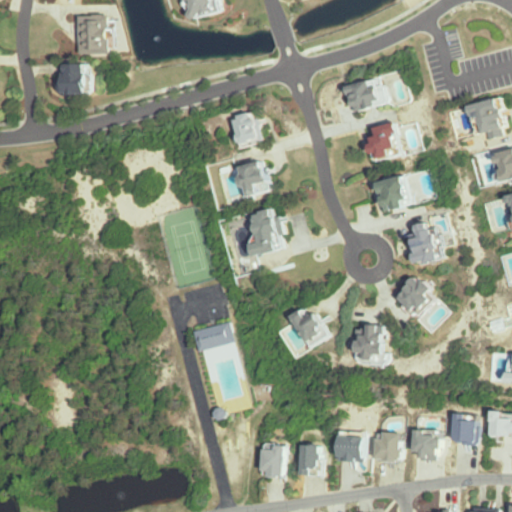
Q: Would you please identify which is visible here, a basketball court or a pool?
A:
pool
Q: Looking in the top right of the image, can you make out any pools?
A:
Yes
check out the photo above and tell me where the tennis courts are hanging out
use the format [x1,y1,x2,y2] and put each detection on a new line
[164,208,210,288]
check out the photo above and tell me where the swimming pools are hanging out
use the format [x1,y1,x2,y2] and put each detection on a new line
[406,172,436,208]
[418,417,446,432]
[400,122,422,154]
[280,324,310,359]
[500,253,512,286]
[492,352,509,383]
[485,200,512,234]
[382,72,413,106]
[382,416,406,432]
[200,323,254,414]
[220,166,242,204]
[474,152,512,188]
[430,213,455,259]
[450,110,472,138]
[418,299,452,334]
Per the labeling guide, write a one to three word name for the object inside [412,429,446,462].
house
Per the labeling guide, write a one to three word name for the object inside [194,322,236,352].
building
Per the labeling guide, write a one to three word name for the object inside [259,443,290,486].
house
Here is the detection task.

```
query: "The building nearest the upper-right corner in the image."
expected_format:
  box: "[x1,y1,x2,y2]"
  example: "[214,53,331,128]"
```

[464,96,511,140]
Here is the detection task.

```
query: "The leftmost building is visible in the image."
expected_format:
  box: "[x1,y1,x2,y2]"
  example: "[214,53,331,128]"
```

[54,62,94,95]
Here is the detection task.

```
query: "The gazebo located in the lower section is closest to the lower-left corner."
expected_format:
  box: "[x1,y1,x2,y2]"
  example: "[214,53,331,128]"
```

[212,405,228,422]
